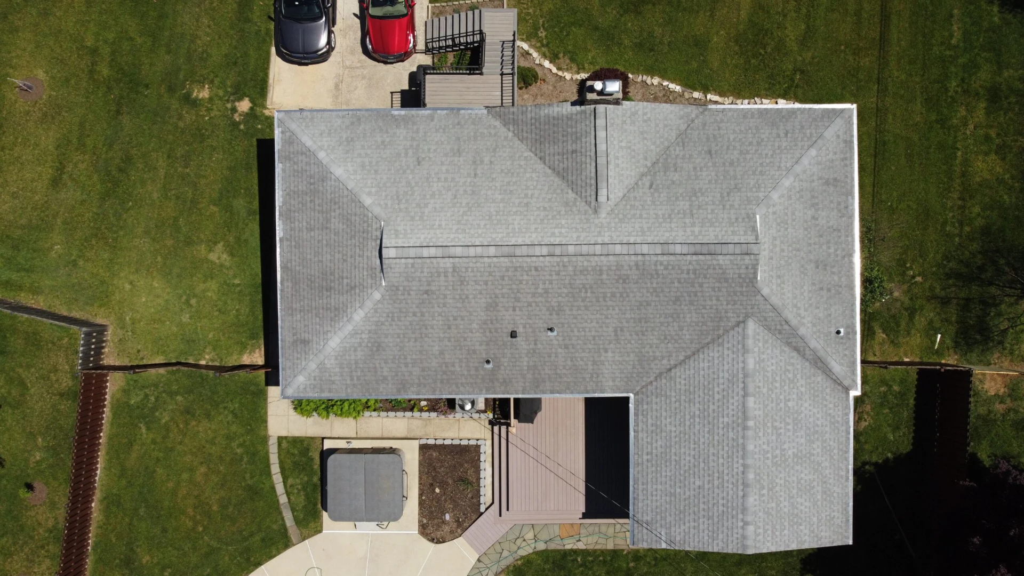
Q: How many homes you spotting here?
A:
1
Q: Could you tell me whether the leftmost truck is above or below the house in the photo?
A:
above it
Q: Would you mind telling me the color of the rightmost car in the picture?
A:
red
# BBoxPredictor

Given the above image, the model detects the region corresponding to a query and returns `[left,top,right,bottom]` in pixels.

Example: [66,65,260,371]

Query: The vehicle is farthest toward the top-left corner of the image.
[264,0,339,65]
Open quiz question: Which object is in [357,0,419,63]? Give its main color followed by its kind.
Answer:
red car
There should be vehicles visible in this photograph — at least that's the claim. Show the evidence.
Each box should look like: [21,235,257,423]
[264,0,339,65]
[357,0,419,63]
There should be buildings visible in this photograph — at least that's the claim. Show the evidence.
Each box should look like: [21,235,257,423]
[276,81,860,552]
